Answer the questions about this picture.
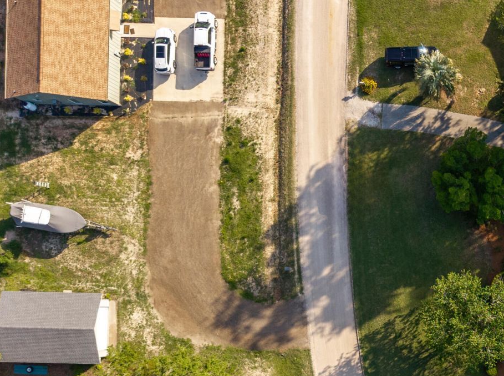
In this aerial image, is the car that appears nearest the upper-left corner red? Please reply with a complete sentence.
No, the car that appears nearest the upper-left corner is white.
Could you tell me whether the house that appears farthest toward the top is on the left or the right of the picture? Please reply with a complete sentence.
The house that appears farthest toward the top appears in the left half of the scene.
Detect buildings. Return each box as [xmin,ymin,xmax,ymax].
[5,0,130,106]
[0,290,110,364]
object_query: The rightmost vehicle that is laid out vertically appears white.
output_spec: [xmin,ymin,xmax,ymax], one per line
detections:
[193,11,220,76]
